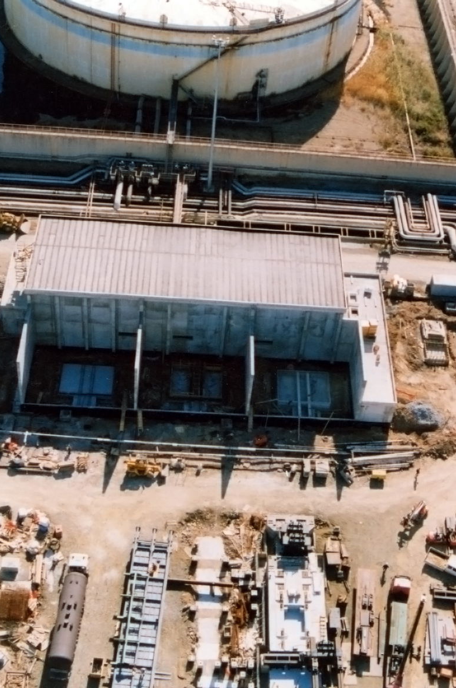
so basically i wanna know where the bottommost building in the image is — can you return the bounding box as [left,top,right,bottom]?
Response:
[0,214,398,431]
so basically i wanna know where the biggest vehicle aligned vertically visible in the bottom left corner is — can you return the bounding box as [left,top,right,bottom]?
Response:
[46,549,91,678]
